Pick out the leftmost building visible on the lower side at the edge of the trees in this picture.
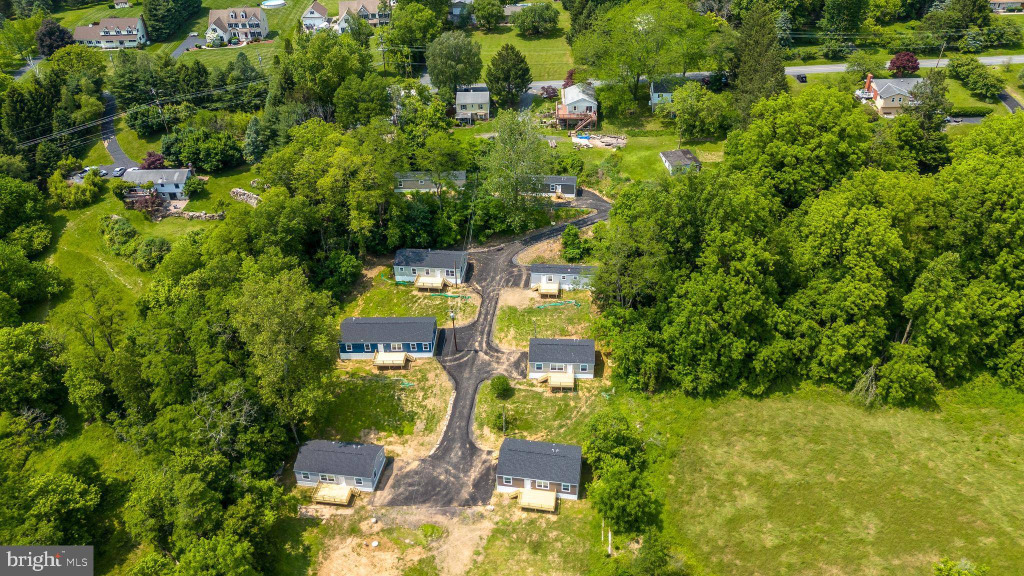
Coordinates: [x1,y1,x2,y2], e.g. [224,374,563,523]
[293,432,384,492]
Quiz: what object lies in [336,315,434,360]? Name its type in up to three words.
house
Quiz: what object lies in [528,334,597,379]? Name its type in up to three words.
house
